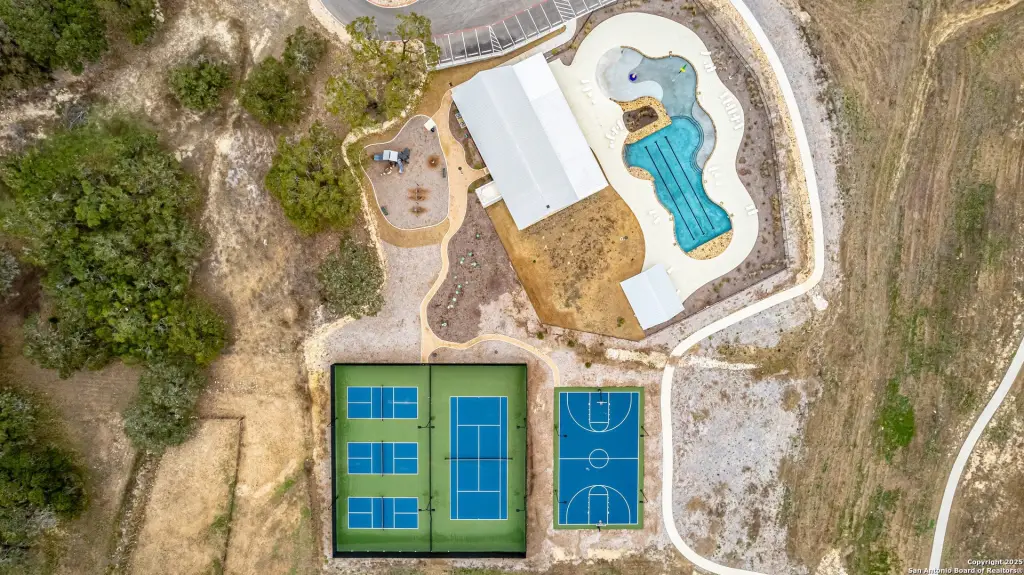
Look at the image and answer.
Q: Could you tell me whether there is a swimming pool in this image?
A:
Yes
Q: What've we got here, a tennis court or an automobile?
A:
tennis court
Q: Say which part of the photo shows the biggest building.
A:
top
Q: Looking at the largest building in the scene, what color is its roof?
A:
white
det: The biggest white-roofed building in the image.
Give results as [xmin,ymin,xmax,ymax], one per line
[450,52,609,230]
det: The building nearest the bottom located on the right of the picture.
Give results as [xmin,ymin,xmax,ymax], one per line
[620,264,684,330]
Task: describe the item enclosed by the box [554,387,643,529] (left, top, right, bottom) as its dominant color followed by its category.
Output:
blue basketball court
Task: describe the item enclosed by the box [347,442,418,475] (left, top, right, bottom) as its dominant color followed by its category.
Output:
blue sports court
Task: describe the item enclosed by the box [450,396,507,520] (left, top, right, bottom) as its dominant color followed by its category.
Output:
blue tennis court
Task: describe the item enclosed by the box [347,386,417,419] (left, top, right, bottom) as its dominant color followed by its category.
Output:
blue sports court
